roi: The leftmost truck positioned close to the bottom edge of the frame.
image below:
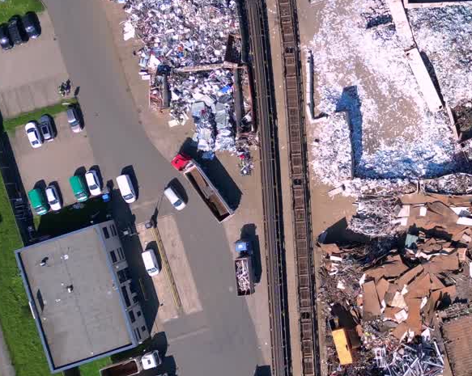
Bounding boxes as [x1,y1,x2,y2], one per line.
[98,348,164,376]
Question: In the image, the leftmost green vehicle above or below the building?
above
